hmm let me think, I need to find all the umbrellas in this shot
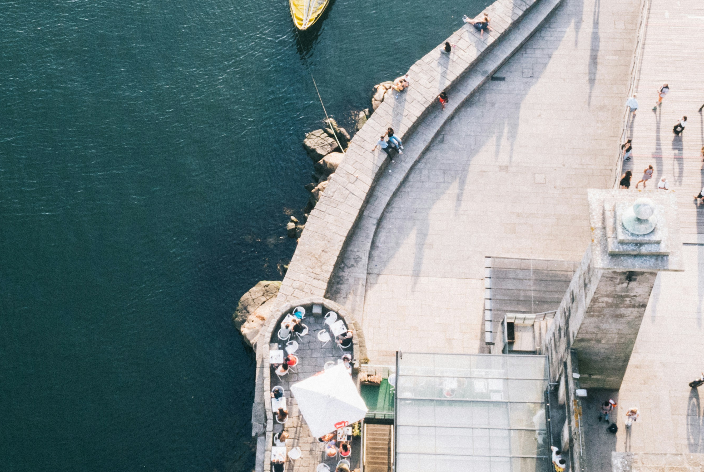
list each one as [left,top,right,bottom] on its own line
[290,363,369,440]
